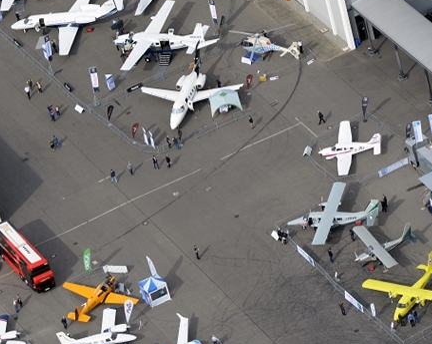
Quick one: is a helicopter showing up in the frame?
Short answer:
Yes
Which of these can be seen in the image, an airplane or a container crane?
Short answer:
airplane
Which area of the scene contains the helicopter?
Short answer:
top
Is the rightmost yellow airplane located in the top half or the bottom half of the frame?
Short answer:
bottom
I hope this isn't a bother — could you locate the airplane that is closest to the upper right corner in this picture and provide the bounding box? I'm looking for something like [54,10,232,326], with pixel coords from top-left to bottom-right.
[318,122,380,174]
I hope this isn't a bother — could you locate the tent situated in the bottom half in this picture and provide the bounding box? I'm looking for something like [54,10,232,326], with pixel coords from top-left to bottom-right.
[140,268,171,302]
